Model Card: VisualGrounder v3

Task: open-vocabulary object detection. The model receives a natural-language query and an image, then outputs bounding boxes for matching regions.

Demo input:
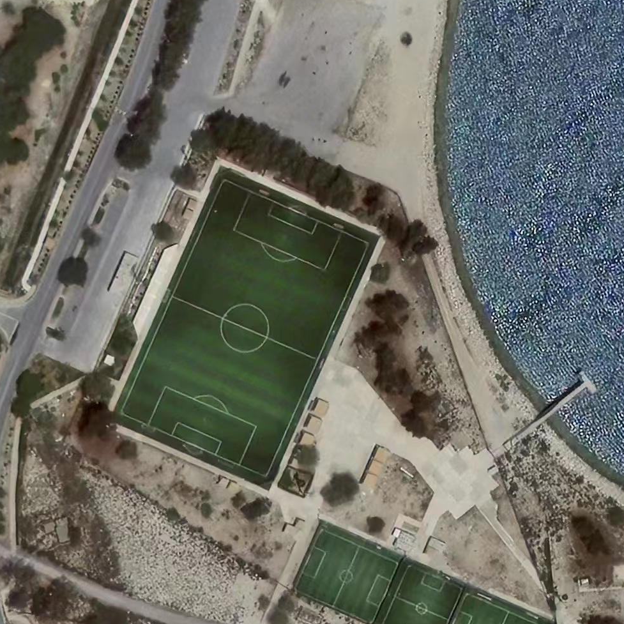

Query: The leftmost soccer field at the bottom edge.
[295,520,404,624]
